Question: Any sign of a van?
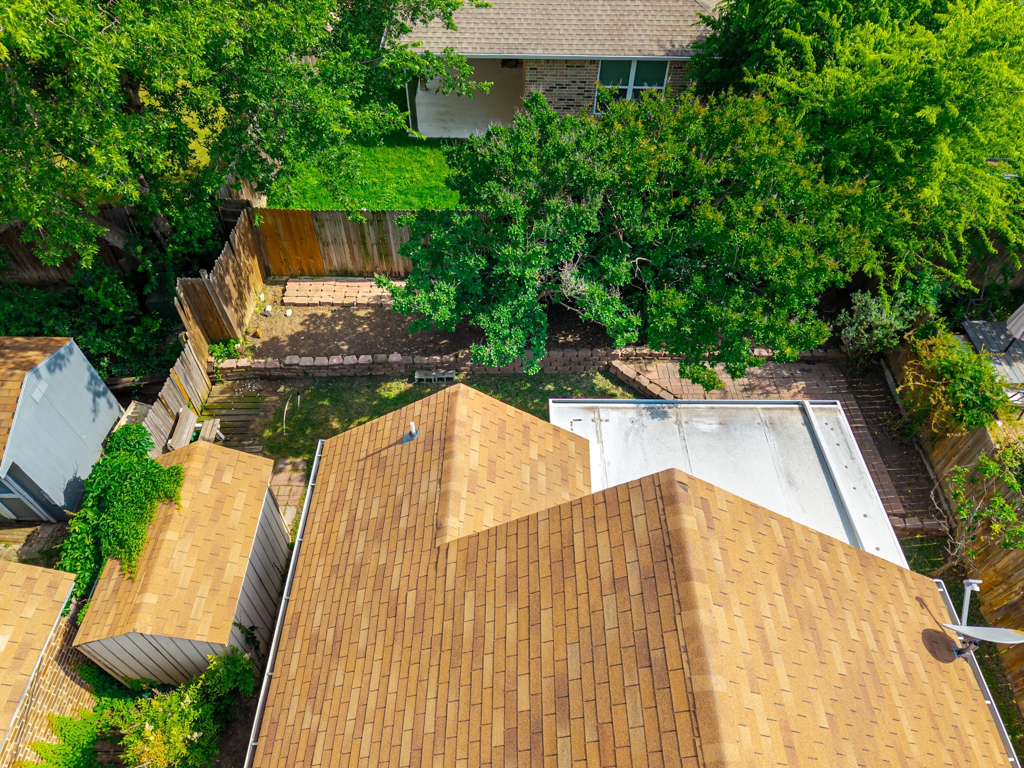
No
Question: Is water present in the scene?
No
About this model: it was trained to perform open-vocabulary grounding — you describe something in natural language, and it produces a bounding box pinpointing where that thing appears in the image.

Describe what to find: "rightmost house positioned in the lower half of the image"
[240,383,1024,768]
